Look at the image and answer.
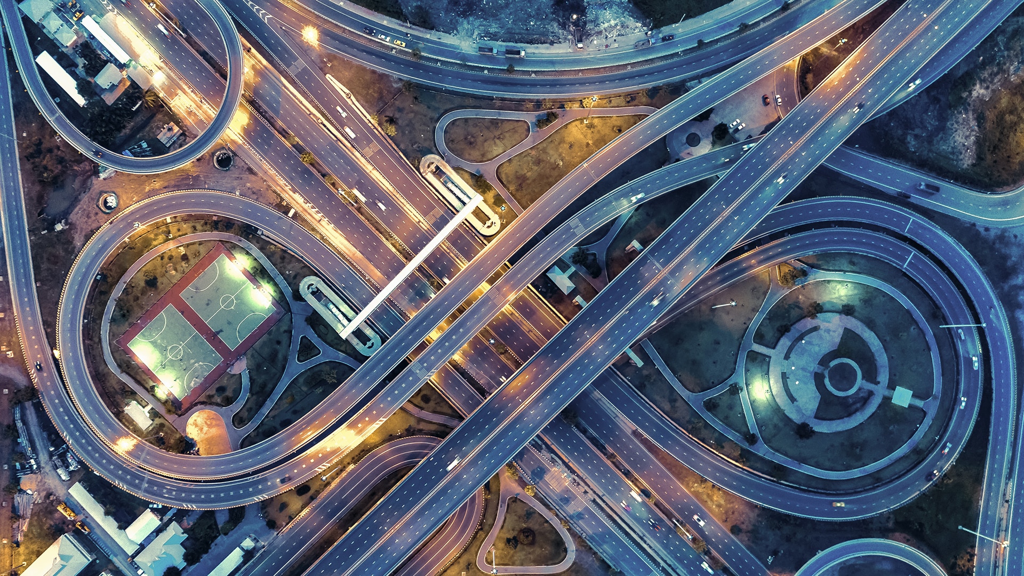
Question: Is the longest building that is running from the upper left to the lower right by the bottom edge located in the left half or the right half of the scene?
left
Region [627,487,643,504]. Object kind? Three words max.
vehicle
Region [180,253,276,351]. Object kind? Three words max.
sports court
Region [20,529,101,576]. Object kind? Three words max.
building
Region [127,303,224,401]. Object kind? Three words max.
sports court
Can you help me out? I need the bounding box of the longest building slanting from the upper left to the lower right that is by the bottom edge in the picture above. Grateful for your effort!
[68,481,142,556]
